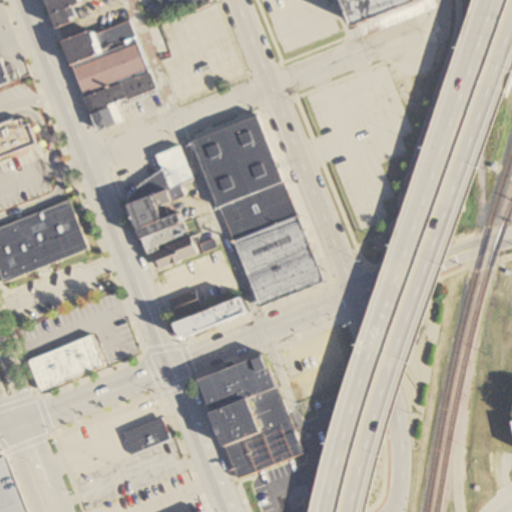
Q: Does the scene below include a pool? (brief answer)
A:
No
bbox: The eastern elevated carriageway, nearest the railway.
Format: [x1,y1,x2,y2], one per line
[333,0,512,512]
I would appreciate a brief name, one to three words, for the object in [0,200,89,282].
building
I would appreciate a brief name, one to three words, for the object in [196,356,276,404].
building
